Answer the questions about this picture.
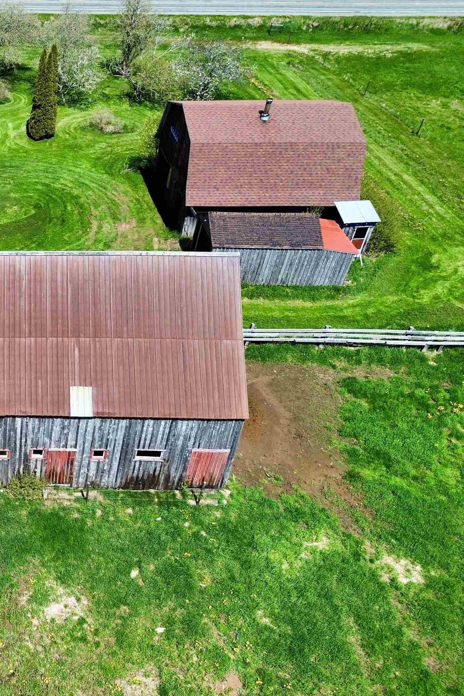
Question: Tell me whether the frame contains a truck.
No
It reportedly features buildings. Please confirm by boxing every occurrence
[0,249,253,492]
[159,89,366,237]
